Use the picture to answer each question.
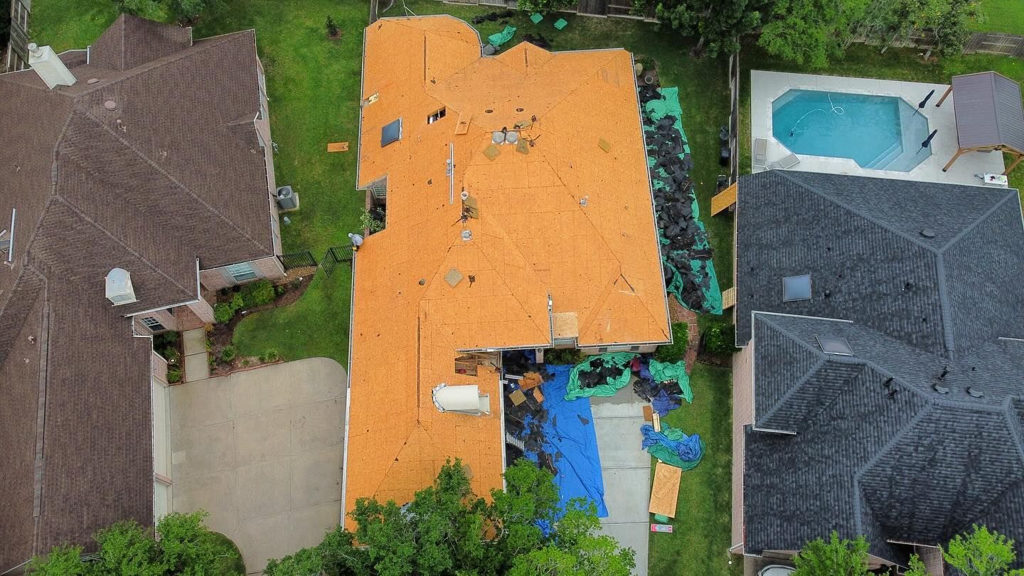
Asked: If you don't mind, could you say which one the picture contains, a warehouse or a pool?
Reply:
pool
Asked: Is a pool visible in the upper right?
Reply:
Yes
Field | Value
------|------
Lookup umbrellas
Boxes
[913,85,938,116]
[917,124,942,154]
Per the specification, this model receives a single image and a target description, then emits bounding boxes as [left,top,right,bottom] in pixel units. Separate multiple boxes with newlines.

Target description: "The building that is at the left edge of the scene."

[0,12,293,576]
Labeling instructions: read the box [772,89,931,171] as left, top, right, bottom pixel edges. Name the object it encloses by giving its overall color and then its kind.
blue swimming pool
